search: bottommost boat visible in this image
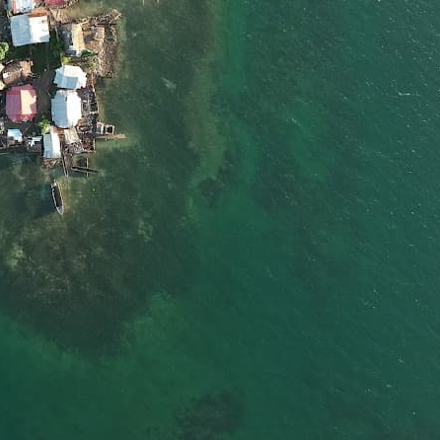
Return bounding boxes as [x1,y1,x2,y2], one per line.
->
[51,179,63,214]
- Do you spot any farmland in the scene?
No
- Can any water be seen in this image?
Yes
